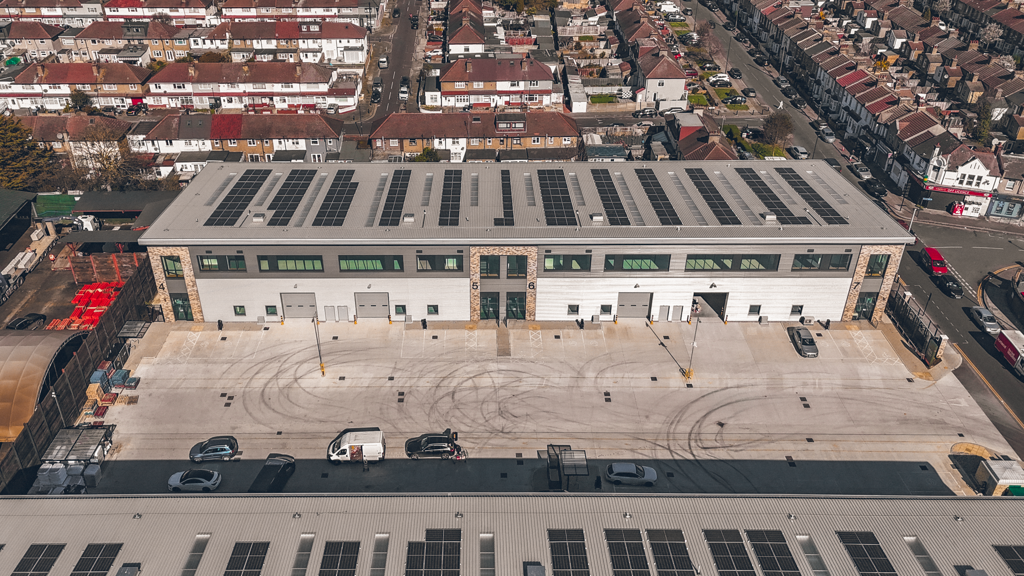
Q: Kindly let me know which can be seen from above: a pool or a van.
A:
van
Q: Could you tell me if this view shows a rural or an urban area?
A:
urban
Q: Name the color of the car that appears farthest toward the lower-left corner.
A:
black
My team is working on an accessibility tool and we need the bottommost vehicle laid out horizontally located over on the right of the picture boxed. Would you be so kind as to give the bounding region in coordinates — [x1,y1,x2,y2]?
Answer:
[605,464,659,489]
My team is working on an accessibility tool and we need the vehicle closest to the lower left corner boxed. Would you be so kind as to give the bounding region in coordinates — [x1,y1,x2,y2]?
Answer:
[166,470,221,494]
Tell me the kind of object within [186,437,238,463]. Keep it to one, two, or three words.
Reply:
car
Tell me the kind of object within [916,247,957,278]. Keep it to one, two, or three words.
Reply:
van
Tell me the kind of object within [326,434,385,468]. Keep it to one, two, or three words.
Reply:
van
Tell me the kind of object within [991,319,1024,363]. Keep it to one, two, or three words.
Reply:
truck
